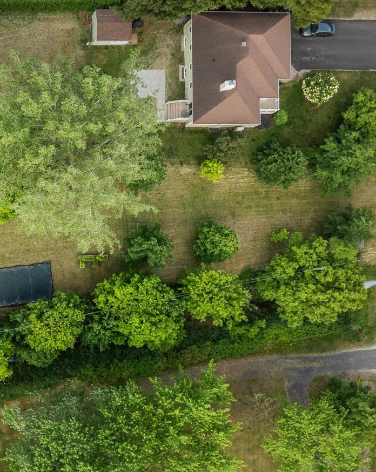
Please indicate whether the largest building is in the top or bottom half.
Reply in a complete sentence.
The top half of the photo is where the largest building is.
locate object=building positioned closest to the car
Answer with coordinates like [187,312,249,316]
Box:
[177,11,292,131]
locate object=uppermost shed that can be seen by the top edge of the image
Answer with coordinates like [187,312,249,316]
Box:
[92,9,136,47]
